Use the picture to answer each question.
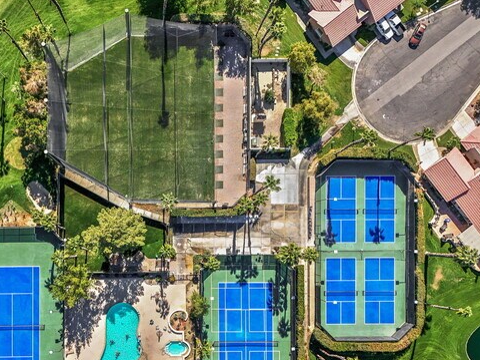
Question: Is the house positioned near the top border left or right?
right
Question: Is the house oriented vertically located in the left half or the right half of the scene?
right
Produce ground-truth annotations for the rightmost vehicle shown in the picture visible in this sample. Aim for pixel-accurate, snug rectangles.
[410,22,429,48]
